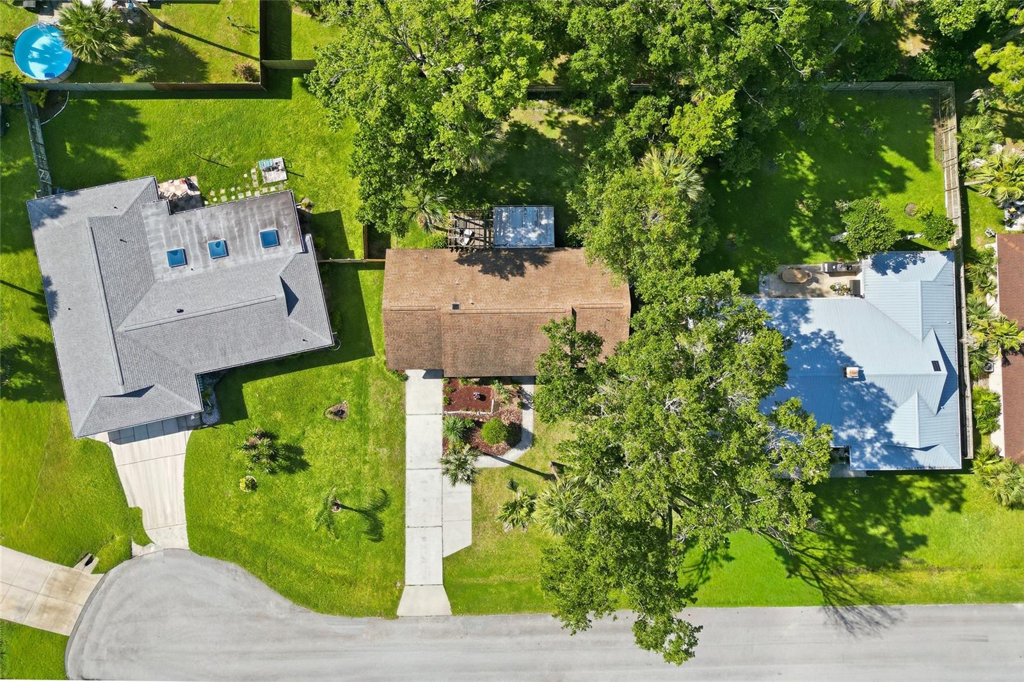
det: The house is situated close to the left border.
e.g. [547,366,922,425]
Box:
[26,174,335,441]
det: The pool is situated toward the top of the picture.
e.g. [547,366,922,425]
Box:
[12,17,84,83]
